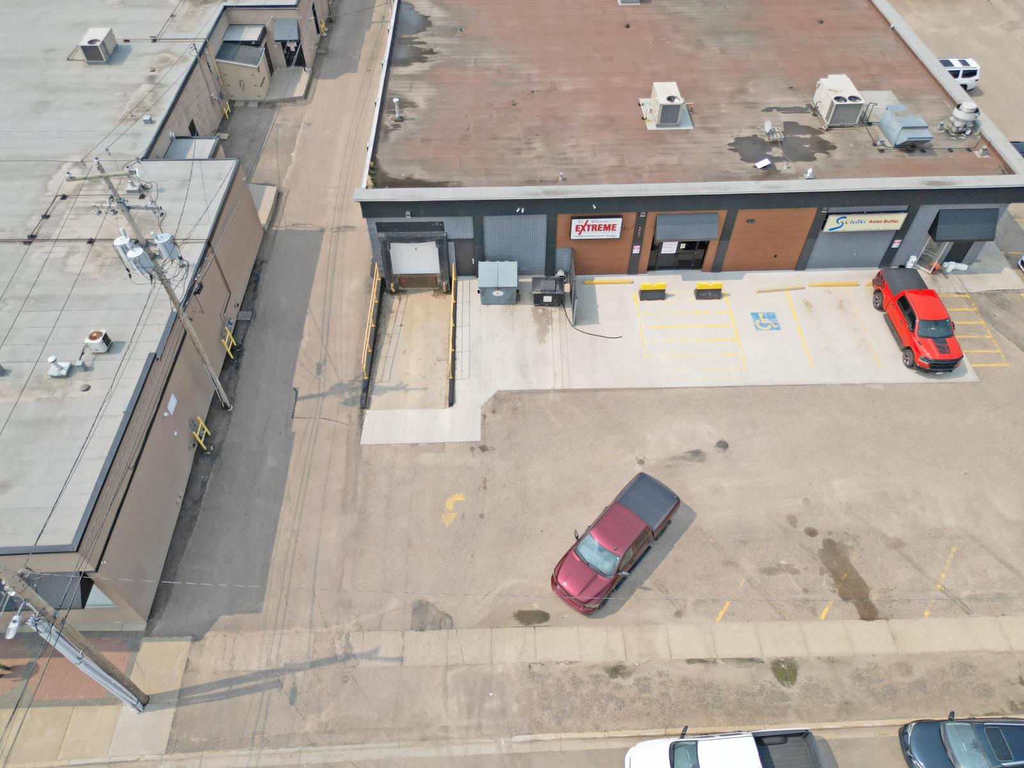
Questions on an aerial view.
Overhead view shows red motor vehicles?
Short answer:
Yes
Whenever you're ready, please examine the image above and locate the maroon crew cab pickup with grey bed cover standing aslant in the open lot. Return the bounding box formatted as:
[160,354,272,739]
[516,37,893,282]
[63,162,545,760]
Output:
[547,474,681,620]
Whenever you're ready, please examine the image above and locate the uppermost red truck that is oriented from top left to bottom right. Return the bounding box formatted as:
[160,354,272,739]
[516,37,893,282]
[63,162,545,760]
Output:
[872,272,967,378]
